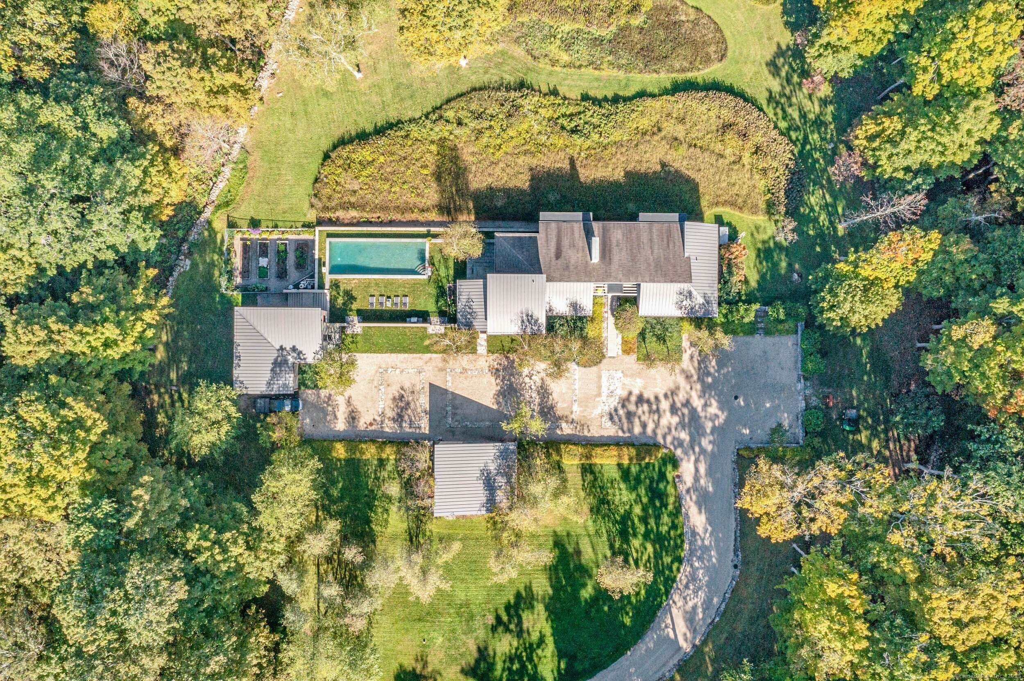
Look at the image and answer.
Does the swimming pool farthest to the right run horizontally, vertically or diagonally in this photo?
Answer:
horizontally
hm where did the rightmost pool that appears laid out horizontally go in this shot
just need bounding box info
[326,238,429,278]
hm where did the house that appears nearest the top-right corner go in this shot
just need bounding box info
[456,212,718,336]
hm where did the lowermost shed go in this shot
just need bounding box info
[434,436,517,518]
